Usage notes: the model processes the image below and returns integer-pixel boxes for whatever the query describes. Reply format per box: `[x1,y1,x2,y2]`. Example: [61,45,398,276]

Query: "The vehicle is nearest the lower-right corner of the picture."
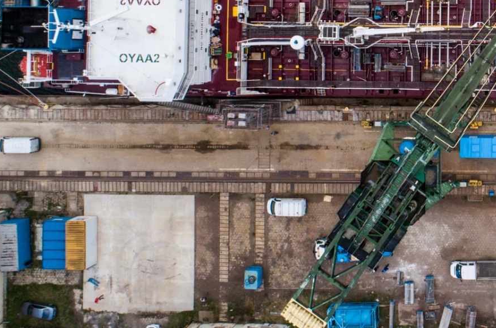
[452,258,496,278]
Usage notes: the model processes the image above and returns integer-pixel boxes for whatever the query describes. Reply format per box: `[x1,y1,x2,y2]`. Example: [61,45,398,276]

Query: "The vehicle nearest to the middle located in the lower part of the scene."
[270,196,310,215]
